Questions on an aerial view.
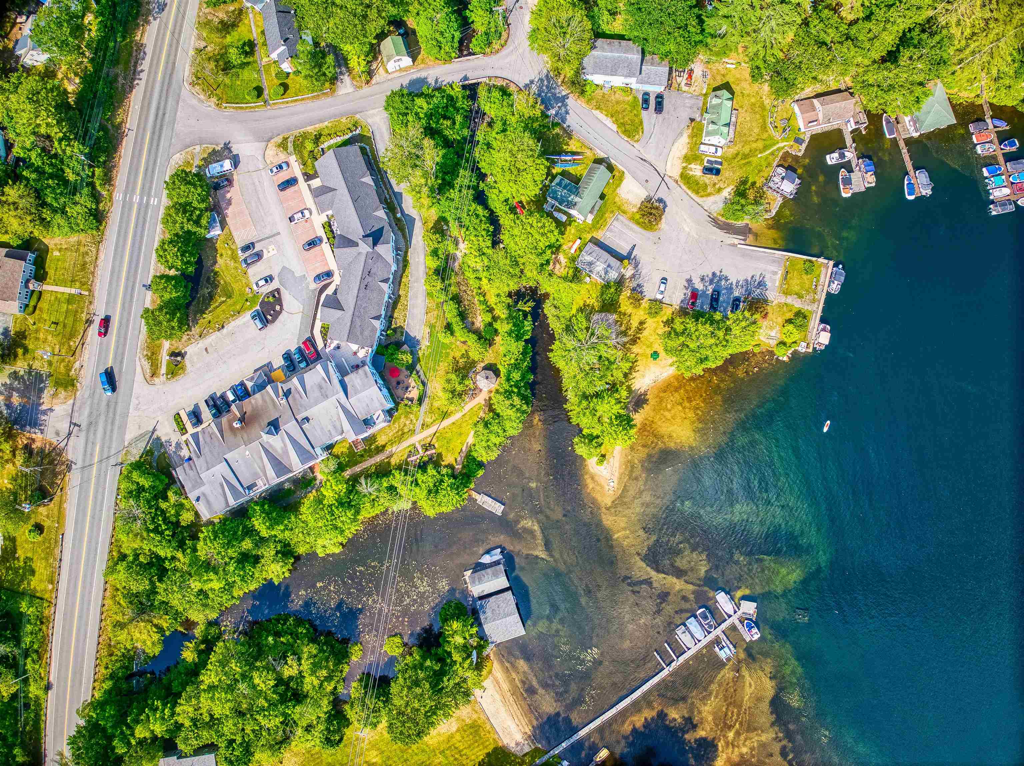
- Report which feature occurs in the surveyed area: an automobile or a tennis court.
automobile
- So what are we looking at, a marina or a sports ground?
marina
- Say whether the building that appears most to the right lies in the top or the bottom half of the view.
top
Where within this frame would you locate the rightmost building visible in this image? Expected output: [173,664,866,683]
[906,81,956,134]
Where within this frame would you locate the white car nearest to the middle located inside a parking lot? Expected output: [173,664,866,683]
[656,278,668,299]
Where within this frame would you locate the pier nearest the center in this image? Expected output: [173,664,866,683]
[469,489,506,516]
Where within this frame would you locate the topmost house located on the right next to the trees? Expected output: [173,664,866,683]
[582,38,668,92]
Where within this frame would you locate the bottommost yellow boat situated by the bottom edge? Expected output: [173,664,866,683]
[592,747,608,765]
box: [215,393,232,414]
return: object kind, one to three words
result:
car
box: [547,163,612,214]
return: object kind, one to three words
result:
house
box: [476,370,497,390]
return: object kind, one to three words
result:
gazebo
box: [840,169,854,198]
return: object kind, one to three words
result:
boat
